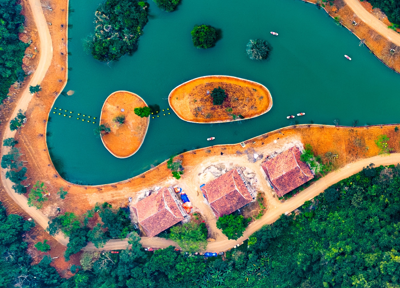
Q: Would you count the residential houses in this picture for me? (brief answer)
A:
3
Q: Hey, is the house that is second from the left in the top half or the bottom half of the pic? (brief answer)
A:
bottom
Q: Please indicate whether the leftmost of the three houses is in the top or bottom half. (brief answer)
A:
bottom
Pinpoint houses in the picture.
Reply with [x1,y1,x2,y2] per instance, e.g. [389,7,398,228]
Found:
[261,146,314,198]
[131,185,189,237]
[201,167,259,220]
